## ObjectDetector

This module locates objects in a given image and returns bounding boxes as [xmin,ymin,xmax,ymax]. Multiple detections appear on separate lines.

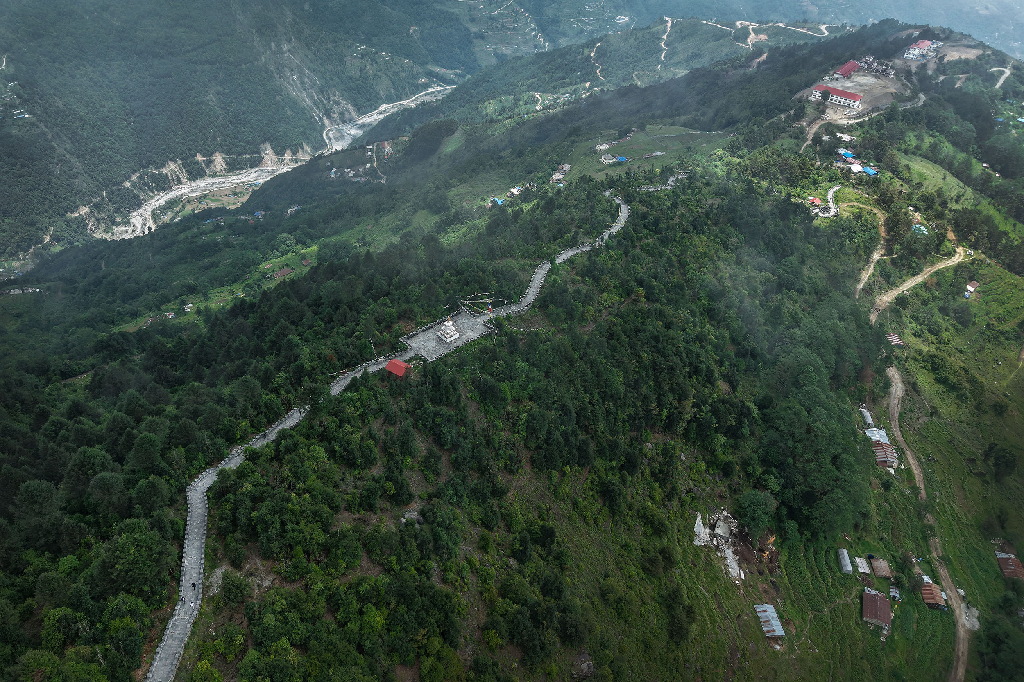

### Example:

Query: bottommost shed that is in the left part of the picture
[382,357,416,382]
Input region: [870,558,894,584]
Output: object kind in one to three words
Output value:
shed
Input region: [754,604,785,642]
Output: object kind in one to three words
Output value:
house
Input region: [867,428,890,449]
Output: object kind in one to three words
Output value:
house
